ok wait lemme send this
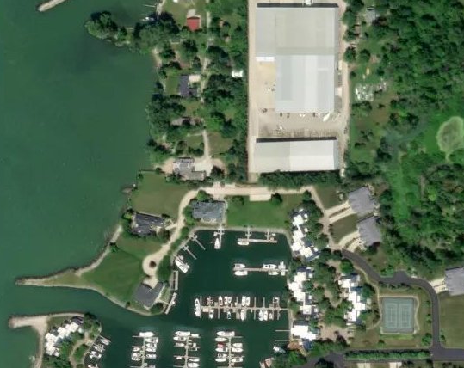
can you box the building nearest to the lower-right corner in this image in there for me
[445,268,464,294]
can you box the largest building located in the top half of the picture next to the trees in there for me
[255,6,338,113]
